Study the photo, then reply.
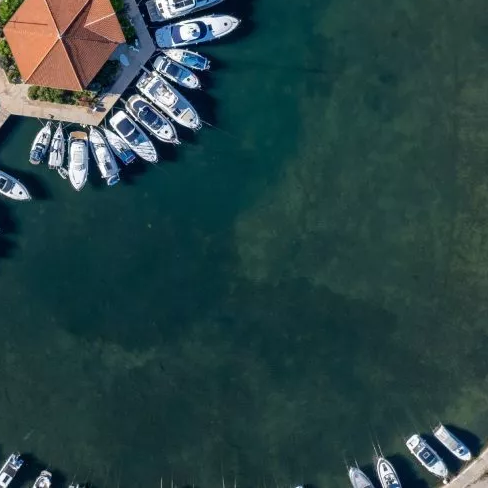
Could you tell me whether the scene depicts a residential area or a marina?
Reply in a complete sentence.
The area seen from above is a marina.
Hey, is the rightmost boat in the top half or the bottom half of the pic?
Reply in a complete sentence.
The bottom half of the photo is where the rightmost boat is.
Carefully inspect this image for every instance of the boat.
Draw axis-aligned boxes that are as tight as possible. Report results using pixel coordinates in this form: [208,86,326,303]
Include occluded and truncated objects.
[402,432,448,478]
[347,461,373,488]
[56,164,67,178]
[32,470,51,488]
[89,124,120,178]
[144,0,223,20]
[29,119,52,164]
[0,169,32,201]
[156,47,210,72]
[148,49,217,97]
[47,122,66,167]
[67,121,90,200]
[0,454,21,488]
[371,444,405,488]
[111,98,166,177]
[130,66,210,135]
[122,94,199,158]
[152,11,244,48]
[433,420,470,462]
[103,125,135,164]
